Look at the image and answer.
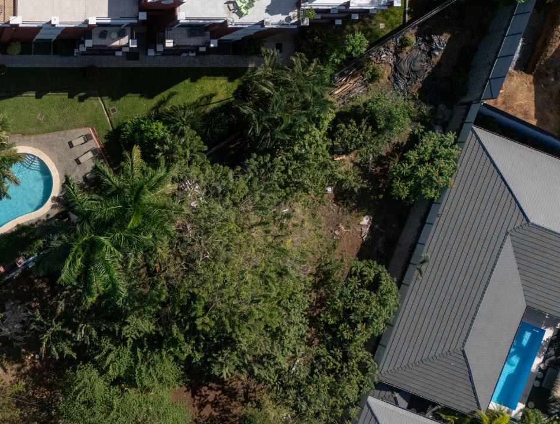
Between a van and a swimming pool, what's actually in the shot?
swimming pool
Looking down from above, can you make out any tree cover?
Yes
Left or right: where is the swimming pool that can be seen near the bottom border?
right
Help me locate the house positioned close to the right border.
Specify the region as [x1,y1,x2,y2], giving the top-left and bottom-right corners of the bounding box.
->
[378,125,560,415]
